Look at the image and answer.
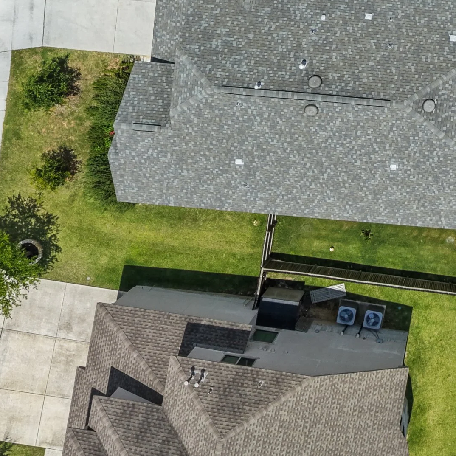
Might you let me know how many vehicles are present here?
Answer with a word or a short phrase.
zero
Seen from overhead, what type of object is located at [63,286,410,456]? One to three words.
house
